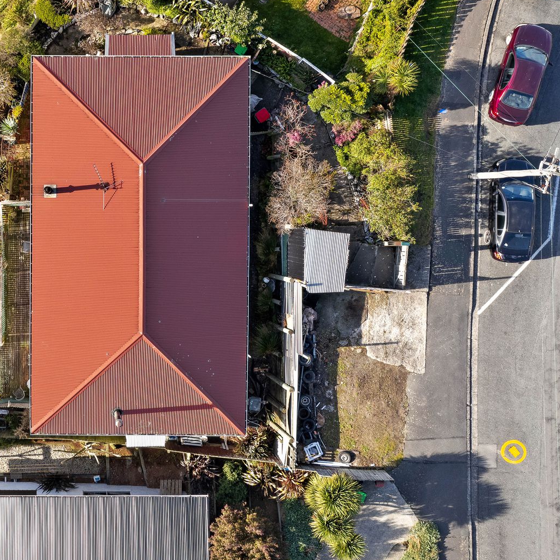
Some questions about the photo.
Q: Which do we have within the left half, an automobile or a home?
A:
home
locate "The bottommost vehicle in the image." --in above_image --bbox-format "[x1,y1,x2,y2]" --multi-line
[488,162,539,261]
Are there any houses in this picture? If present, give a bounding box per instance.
[28,32,252,447]
[0,484,214,560]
